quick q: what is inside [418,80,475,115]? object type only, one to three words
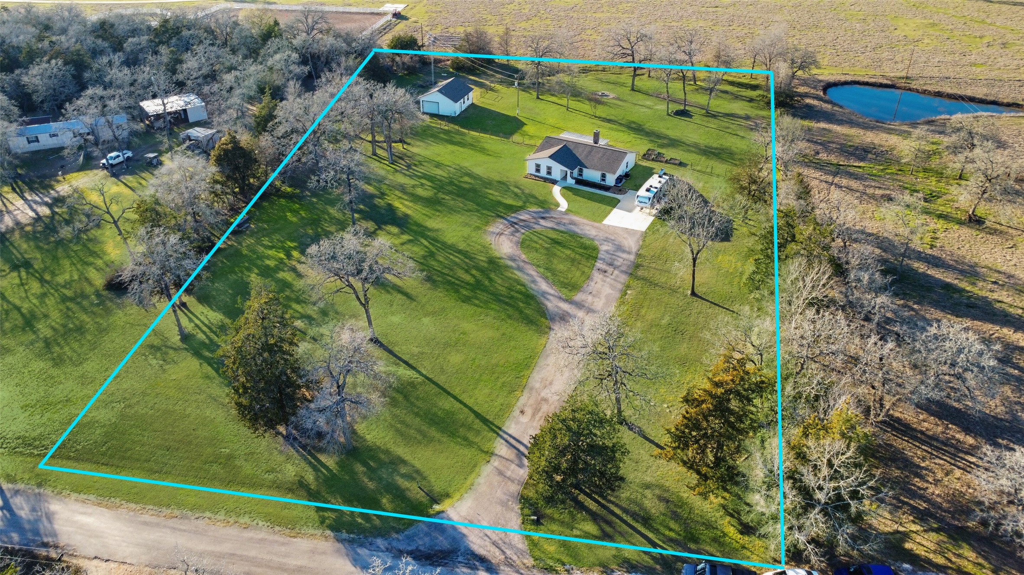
building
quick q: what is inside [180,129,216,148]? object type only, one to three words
shed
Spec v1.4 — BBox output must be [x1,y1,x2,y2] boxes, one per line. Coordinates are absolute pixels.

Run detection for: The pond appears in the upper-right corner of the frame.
[826,82,1024,119]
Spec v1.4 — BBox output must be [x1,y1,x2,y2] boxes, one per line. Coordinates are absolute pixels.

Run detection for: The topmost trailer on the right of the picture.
[637,173,668,214]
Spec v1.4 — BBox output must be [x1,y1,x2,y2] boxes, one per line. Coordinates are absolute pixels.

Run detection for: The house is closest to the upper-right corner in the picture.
[523,130,641,186]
